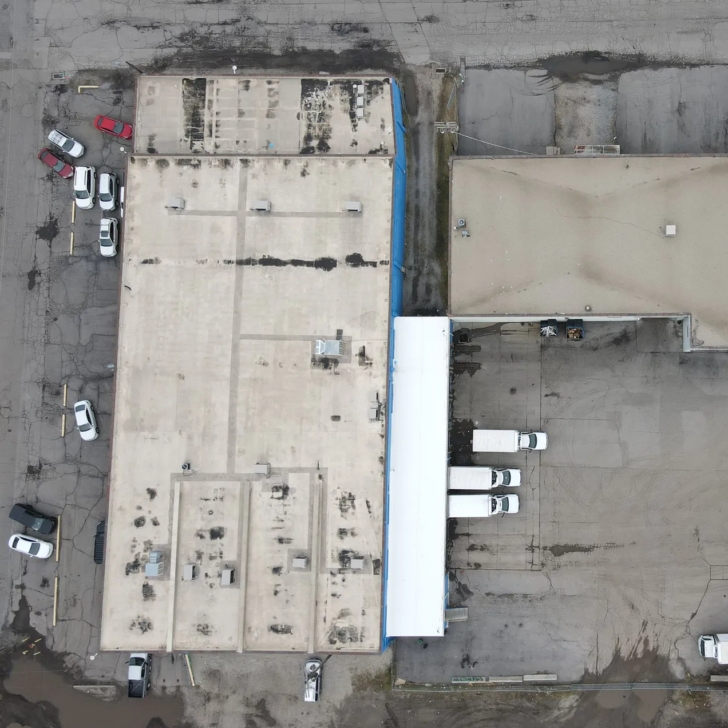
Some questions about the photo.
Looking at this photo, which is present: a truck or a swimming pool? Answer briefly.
truck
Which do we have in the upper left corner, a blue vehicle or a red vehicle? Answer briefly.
red vehicle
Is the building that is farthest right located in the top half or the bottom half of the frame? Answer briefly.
top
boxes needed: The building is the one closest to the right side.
[449,155,728,353]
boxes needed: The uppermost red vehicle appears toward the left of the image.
[93,114,134,141]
